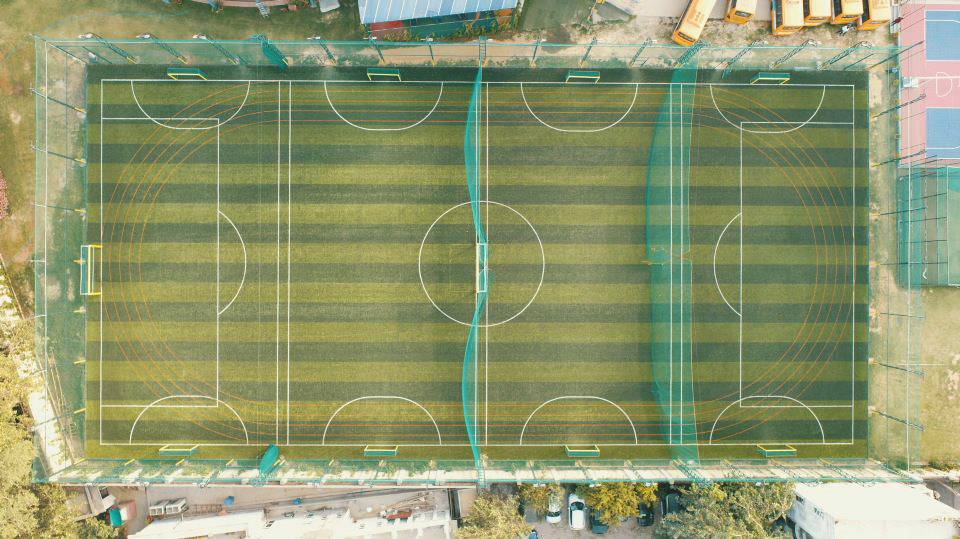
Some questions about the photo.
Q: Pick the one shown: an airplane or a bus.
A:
bus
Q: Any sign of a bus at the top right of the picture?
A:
Yes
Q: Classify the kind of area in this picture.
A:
sports ground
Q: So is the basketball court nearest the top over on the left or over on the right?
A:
right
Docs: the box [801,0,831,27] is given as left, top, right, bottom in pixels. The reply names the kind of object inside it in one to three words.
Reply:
bus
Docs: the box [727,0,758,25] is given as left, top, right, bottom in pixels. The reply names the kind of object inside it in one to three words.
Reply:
bus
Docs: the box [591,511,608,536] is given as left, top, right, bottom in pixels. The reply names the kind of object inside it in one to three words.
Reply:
car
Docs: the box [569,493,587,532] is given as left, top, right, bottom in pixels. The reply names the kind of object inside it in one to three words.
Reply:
car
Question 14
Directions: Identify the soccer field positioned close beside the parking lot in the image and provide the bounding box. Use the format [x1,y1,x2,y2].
[85,64,869,458]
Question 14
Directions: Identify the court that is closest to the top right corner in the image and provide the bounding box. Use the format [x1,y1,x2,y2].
[900,0,960,164]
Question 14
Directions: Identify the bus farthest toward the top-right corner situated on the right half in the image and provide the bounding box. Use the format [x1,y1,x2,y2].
[857,0,891,31]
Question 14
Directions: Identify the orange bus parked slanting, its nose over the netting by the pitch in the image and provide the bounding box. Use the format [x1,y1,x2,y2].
[670,0,714,50]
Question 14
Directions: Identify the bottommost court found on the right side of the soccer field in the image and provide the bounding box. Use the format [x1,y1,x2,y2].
[899,167,960,286]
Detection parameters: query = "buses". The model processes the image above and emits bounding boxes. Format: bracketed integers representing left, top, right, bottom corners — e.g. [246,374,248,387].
[831,0,863,24]
[857,0,891,31]
[801,0,831,27]
[670,0,714,50]
[772,0,803,37]
[727,0,758,25]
